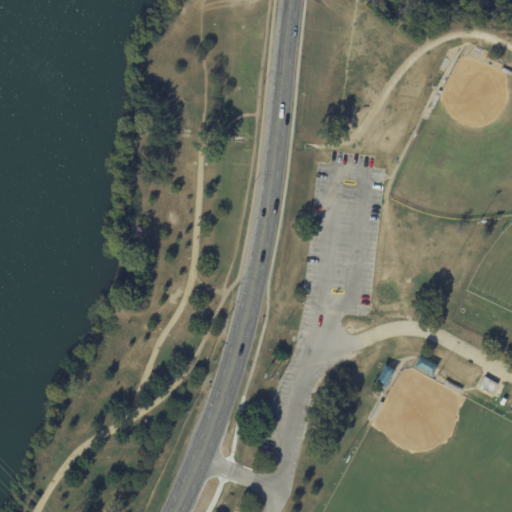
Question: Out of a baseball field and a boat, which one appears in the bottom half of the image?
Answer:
baseball field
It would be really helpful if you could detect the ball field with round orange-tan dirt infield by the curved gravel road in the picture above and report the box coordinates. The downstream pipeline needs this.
[392,56,512,218]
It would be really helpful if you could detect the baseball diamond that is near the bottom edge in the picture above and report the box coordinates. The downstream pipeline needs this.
[325,366,512,512]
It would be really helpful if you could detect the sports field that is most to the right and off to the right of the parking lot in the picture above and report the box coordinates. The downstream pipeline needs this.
[468,223,512,312]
